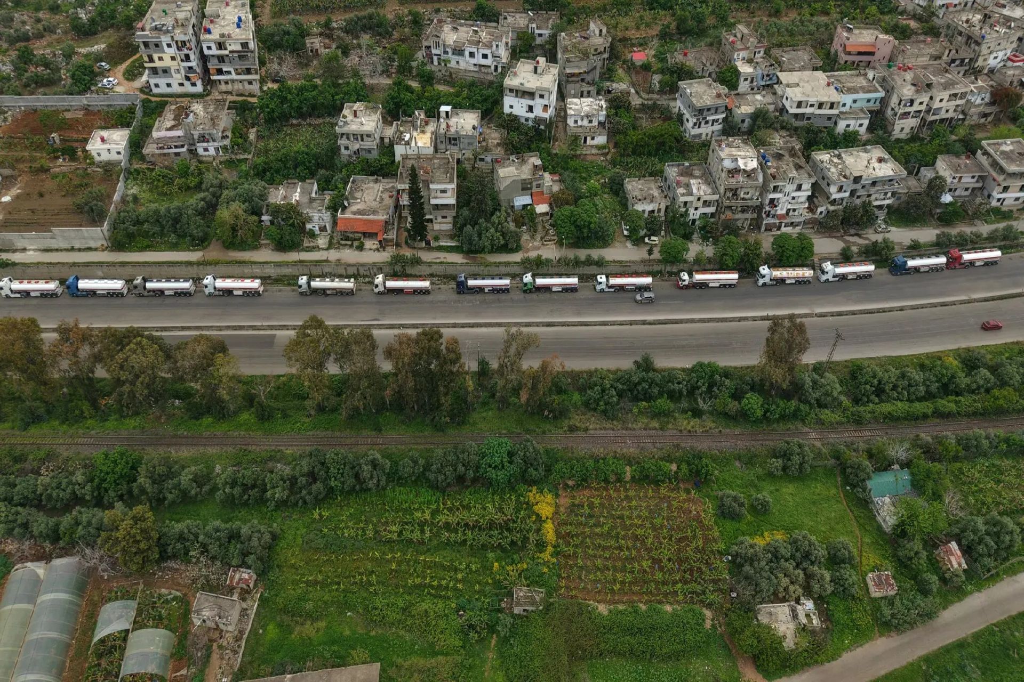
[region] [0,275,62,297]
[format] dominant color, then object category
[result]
white truck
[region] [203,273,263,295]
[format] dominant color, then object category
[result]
white truck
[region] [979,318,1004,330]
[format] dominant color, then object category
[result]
red vehicle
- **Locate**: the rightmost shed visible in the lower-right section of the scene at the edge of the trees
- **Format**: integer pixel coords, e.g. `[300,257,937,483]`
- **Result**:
[933,542,967,578]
